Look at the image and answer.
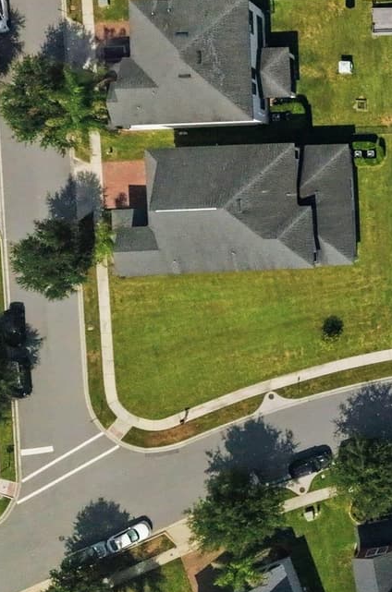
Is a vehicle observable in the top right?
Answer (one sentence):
No, no vehicle appears in the top right.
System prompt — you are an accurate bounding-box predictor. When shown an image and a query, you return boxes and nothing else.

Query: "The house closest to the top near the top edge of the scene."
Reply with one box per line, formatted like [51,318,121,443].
[107,0,300,129]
